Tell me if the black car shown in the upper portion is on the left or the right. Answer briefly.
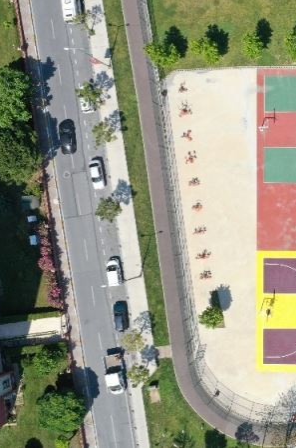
left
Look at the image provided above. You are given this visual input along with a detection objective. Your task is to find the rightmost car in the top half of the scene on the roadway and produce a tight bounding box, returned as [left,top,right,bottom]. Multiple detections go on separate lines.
[84,156,105,191]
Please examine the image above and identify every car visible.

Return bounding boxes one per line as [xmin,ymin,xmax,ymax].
[109,300,129,335]
[102,256,122,289]
[84,156,105,191]
[69,80,90,114]
[55,116,76,155]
